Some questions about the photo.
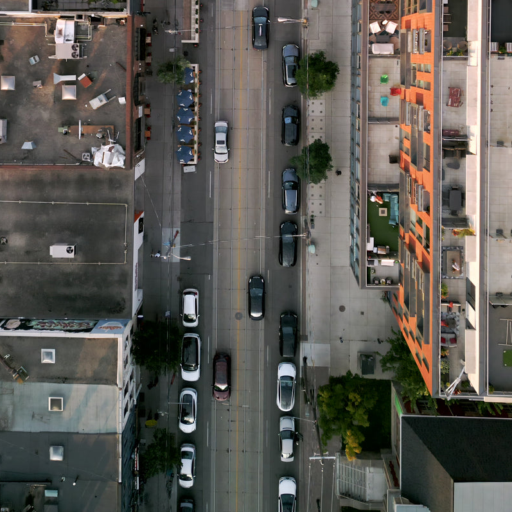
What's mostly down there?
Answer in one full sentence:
The largest share of the image is taken up by buildings.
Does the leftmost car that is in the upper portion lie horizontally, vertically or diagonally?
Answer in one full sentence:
The leftmost car that is in the upper portion is laid out vertically.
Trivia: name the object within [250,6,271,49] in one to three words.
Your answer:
car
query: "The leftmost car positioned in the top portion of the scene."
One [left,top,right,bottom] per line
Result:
[211,119,231,162]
